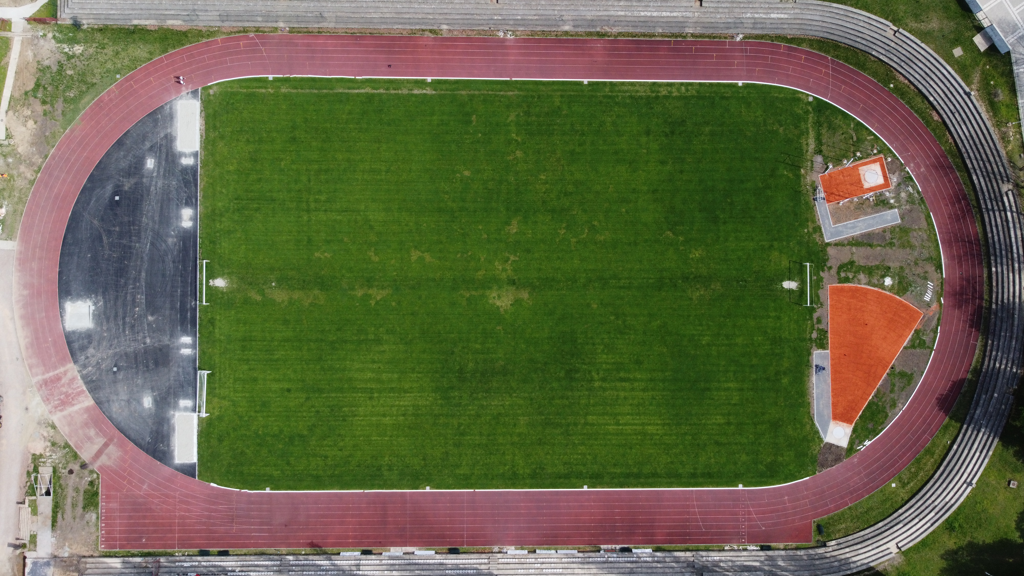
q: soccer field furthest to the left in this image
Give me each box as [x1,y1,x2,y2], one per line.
[198,76,816,491]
